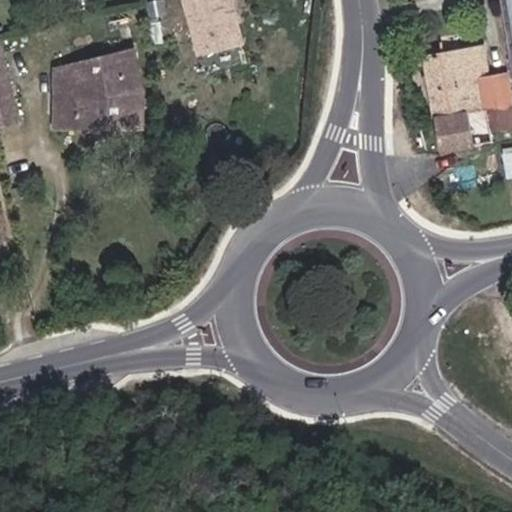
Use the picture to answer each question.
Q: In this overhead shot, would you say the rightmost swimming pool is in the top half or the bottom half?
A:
top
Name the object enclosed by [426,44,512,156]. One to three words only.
house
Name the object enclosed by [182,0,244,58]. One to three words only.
house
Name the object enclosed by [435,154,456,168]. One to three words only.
car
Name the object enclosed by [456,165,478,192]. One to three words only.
swimming pool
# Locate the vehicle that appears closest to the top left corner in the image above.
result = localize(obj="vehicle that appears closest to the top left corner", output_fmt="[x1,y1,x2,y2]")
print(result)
[12,50,24,72]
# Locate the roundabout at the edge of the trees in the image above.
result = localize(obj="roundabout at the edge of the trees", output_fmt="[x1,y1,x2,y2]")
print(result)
[214,184,444,414]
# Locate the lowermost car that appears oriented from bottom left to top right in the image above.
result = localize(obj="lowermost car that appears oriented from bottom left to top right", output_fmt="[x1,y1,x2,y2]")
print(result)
[428,308,448,326]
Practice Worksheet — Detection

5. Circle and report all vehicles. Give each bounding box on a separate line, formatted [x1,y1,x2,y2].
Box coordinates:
[435,154,456,168]
[428,308,448,326]
[38,72,48,92]
[491,46,502,68]
[12,50,24,72]
[305,378,325,388]
[8,163,29,174]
